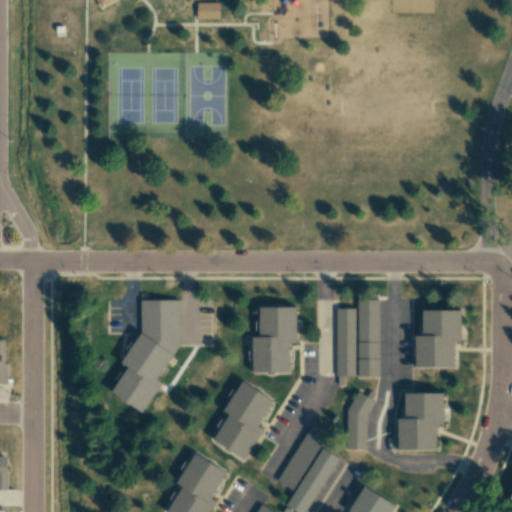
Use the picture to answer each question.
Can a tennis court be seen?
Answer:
Yes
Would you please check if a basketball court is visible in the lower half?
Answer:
No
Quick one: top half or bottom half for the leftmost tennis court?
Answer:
top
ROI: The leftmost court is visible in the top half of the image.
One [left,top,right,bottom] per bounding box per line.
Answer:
[118,68,146,124]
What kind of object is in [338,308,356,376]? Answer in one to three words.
building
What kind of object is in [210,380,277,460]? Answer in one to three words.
building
